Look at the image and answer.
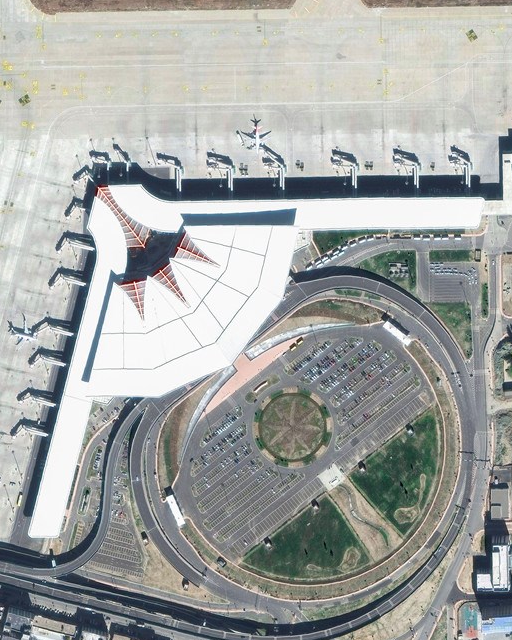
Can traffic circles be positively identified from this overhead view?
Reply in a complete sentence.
Yes, the frame does contain a traffic circle.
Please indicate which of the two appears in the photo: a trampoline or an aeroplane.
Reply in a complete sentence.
The image shows an aeroplane.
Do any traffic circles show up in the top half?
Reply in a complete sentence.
No, no traffic circle is visible in the top half.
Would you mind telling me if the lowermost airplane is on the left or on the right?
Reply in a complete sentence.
The lowermost airplane is on the left side of the image.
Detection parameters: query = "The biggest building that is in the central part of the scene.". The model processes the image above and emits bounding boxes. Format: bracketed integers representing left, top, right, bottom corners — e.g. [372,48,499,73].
[28,179,486,538]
